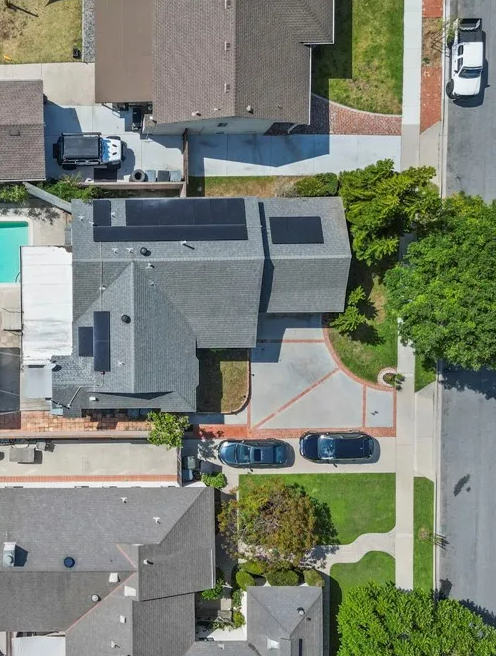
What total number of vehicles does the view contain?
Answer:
4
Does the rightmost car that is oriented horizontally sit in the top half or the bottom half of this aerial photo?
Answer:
bottom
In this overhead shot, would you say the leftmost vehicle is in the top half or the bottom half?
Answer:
top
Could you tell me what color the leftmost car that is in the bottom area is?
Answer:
blue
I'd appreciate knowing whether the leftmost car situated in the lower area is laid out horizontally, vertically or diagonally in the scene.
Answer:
horizontally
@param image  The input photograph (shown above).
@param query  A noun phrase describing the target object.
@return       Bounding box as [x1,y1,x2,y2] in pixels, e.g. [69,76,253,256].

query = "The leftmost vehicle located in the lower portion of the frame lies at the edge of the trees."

[217,439,290,471]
